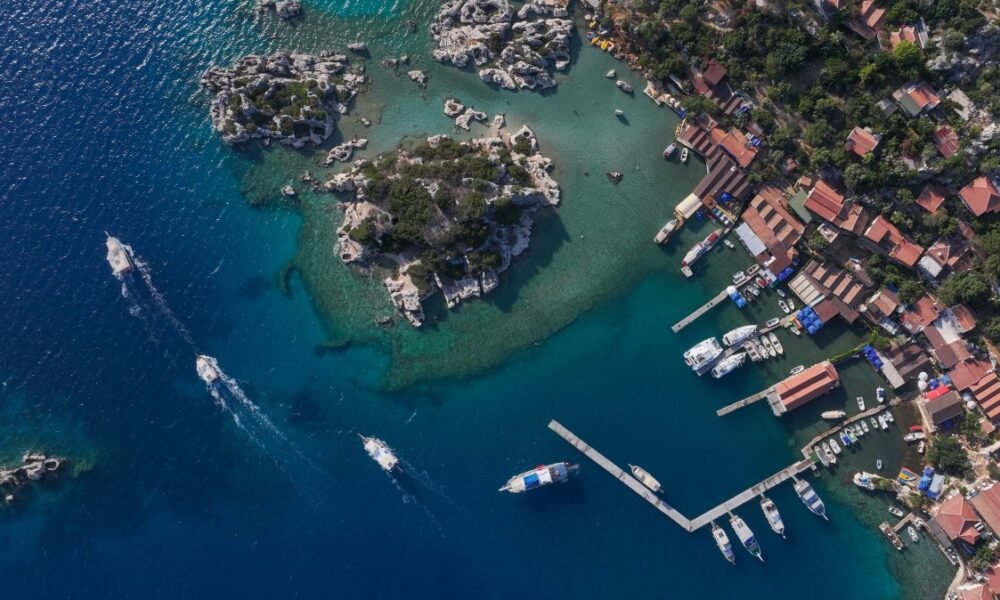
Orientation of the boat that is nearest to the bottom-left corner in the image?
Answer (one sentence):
What the image shows is the boat that is nearest to the bottom-left corner lying on a diagonal.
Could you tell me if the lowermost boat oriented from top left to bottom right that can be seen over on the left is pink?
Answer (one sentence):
No, from above the lowermost boat oriented from top left to bottom right that can be seen over on the left looks white.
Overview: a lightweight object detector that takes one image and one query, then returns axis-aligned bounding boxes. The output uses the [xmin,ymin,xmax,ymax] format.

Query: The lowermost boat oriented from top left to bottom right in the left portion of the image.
[356,433,401,475]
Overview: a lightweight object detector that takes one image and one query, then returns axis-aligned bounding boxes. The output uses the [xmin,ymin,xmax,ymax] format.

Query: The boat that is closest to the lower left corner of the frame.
[197,355,224,388]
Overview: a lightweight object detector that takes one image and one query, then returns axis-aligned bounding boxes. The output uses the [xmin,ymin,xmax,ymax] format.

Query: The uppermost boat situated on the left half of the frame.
[106,236,135,278]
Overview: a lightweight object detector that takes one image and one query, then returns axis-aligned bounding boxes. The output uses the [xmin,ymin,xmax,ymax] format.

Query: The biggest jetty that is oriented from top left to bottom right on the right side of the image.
[549,419,689,529]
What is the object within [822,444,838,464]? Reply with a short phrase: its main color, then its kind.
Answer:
white boat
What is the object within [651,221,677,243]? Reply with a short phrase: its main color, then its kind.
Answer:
white boat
